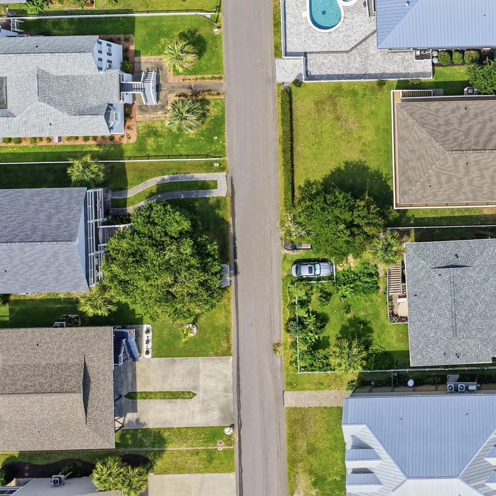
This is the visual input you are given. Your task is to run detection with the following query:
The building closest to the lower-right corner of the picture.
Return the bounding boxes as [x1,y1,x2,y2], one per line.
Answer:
[342,388,496,496]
